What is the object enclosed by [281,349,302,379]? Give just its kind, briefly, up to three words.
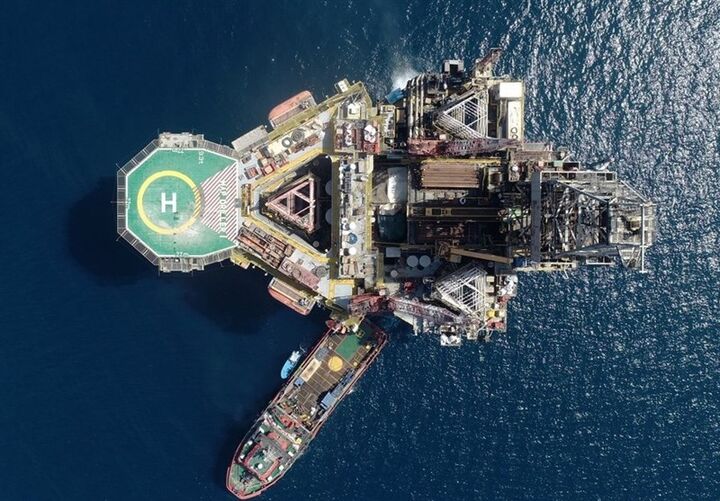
boat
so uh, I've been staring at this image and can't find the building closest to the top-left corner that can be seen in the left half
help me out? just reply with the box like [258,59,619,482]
[231,124,271,157]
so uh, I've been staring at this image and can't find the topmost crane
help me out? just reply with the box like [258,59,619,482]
[470,47,503,83]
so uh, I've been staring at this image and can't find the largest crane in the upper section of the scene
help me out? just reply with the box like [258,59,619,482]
[391,134,520,165]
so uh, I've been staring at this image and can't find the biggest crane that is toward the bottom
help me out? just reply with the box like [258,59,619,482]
[365,287,469,323]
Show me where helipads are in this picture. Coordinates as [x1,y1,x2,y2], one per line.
[115,132,240,273]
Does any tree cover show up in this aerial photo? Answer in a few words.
No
